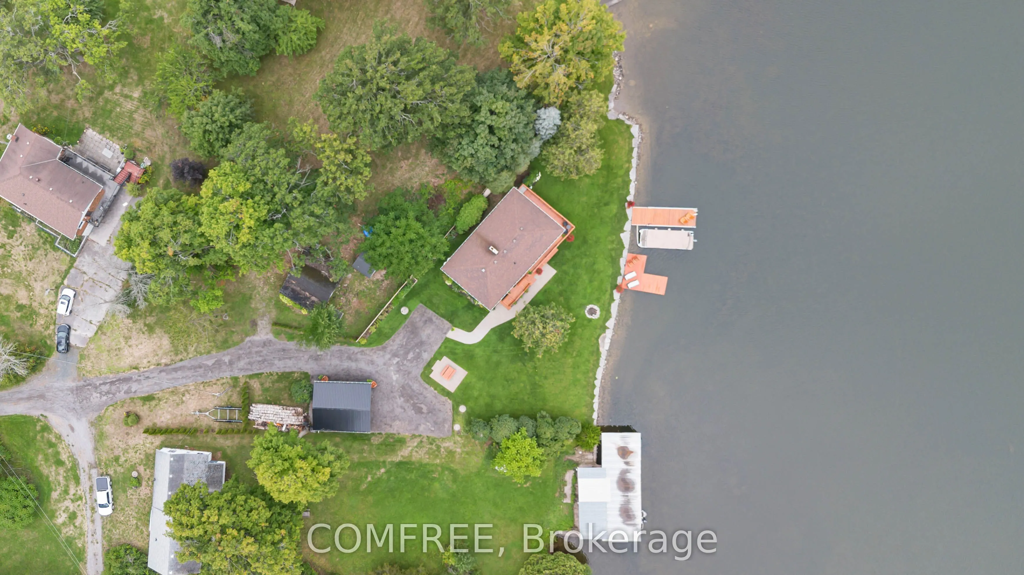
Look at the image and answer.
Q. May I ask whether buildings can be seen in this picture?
Yes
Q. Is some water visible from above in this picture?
Yes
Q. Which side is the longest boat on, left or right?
right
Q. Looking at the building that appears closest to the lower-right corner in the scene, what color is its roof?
white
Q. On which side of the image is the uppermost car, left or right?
left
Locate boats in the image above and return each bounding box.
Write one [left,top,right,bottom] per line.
[641,513,647,527]
[638,229,695,250]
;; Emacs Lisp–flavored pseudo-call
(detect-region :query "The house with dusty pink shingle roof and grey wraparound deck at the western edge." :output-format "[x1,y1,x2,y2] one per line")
[0,123,107,240]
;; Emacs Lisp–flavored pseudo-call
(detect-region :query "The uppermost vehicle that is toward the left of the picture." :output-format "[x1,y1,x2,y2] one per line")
[58,286,78,318]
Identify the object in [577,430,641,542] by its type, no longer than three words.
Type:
building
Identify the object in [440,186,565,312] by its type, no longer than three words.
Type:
house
